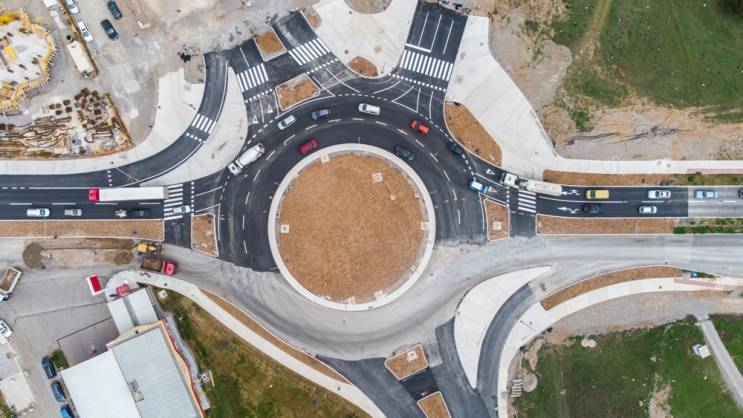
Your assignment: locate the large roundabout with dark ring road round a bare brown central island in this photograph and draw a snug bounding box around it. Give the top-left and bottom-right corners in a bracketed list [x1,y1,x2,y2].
[212,86,490,311]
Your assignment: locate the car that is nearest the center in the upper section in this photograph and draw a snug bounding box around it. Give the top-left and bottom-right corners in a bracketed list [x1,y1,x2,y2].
[393,144,415,162]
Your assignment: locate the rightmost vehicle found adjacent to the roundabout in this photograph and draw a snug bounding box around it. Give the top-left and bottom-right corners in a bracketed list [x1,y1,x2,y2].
[496,171,562,195]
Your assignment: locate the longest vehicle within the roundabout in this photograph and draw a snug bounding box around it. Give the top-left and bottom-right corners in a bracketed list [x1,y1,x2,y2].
[225,144,268,179]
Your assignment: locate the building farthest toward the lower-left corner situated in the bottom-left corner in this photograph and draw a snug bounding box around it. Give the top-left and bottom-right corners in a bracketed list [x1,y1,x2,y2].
[0,374,39,411]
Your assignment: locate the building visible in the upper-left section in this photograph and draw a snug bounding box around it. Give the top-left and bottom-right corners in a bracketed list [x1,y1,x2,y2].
[0,5,62,114]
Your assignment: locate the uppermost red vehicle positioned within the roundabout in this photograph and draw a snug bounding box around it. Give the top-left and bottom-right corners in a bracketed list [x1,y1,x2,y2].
[409,119,431,135]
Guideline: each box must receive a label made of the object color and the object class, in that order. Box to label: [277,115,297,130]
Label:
white car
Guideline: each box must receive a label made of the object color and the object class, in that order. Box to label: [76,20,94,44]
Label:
white car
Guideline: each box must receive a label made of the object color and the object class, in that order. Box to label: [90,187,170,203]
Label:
white vehicle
